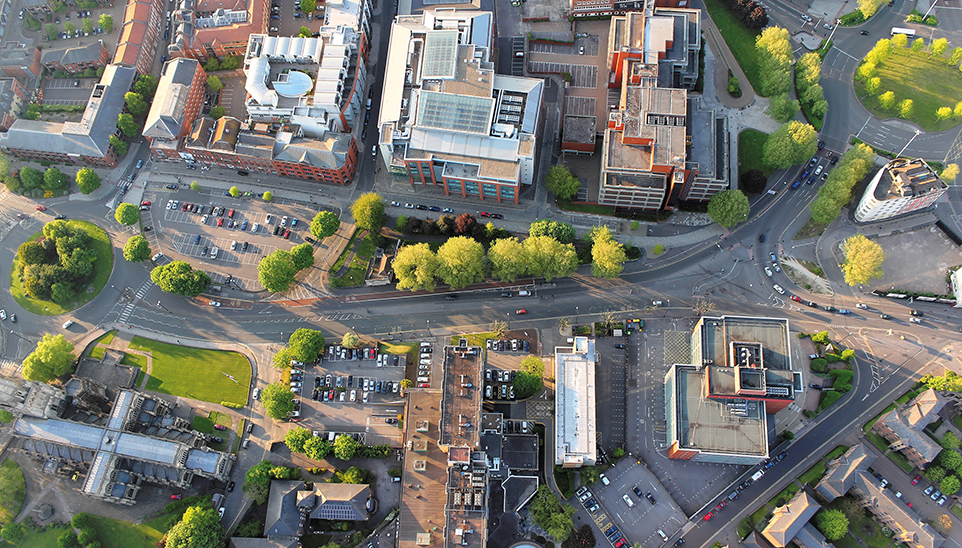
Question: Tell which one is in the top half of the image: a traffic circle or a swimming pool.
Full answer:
You can see a traffic circle in the top half of the image.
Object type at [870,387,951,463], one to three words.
house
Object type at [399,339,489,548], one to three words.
building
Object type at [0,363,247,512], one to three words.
church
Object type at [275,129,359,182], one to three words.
building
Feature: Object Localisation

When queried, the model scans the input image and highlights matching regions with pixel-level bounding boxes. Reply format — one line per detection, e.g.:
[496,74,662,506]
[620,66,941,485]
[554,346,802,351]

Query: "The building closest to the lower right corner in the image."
[847,468,949,548]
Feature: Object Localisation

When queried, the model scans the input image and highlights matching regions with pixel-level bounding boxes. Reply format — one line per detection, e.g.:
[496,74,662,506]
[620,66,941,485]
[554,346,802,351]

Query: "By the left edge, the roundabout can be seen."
[9,219,114,316]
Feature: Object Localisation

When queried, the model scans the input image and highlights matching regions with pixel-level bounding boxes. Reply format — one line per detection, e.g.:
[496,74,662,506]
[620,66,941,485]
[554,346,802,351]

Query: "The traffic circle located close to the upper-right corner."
[853,47,962,132]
